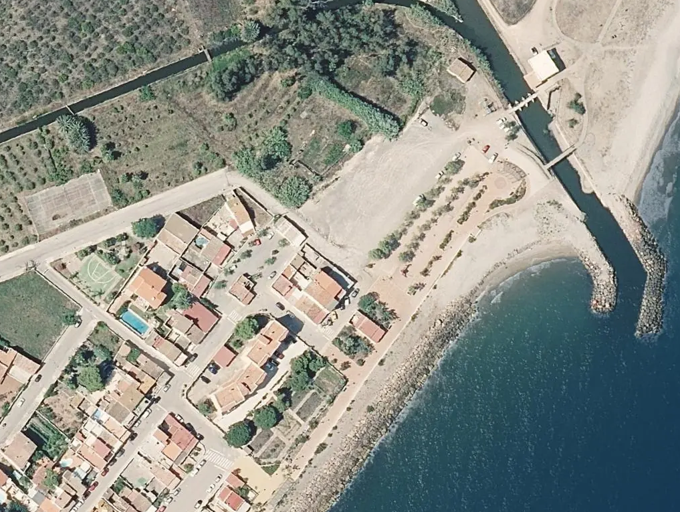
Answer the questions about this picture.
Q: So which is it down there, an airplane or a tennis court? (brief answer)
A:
tennis court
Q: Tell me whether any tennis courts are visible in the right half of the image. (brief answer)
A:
No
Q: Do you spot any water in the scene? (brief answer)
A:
Yes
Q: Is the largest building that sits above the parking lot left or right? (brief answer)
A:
right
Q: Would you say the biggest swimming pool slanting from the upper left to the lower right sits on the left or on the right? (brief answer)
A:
left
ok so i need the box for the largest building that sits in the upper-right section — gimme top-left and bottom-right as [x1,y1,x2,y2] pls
[523,50,559,89]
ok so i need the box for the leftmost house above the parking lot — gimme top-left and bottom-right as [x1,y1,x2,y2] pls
[447,59,474,83]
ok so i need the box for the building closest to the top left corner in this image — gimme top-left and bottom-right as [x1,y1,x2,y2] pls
[157,213,200,254]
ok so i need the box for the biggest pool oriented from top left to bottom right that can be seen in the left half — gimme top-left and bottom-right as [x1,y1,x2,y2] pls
[120,309,151,335]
